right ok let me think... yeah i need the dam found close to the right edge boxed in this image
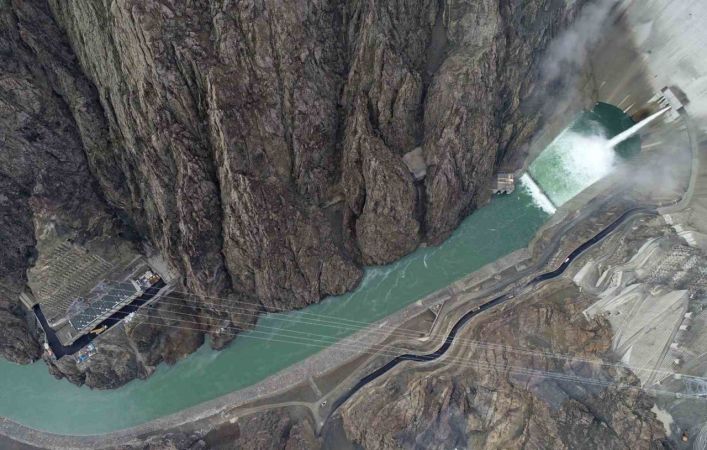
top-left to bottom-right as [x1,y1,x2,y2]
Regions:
[598,0,707,267]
